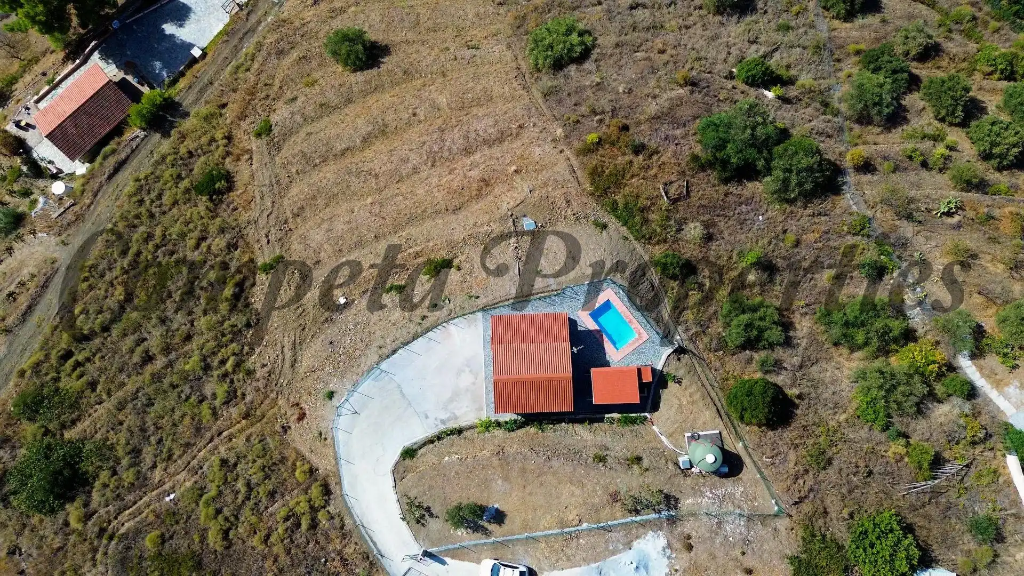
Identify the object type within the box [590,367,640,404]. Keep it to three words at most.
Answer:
shed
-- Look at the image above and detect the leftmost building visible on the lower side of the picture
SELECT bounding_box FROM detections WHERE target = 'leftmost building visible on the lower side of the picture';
[491,313,586,414]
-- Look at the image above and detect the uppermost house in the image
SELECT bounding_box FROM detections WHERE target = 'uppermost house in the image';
[33,62,135,162]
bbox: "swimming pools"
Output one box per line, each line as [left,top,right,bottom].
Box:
[578,288,650,362]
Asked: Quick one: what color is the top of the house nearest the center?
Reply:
red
